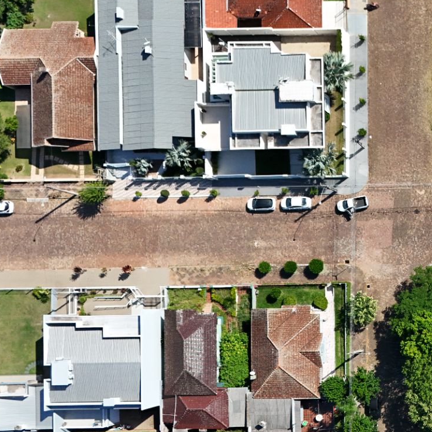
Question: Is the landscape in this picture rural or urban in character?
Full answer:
This place is urban.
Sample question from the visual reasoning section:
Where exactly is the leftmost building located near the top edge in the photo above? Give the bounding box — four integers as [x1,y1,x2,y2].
[0,21,98,151]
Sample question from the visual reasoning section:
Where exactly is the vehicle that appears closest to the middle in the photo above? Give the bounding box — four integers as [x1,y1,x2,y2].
[248,196,276,212]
